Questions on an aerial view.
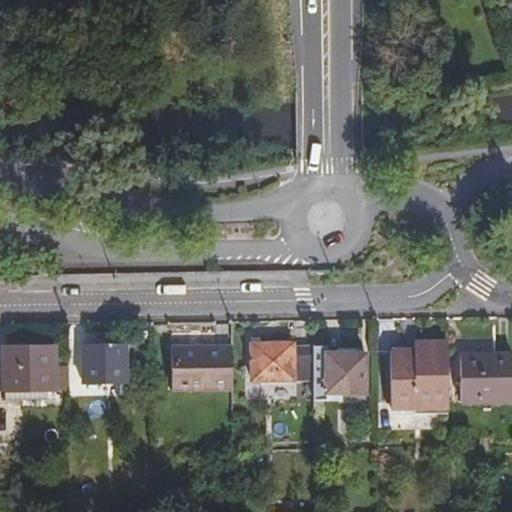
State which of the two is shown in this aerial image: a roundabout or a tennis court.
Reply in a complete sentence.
Visible in the photo is a roundabout.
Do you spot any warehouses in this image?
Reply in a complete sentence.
No, the photo shows no warehouse.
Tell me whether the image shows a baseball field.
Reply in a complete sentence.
No, the scene contains no baseball field.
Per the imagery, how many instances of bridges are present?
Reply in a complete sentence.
I count just 1 bridge.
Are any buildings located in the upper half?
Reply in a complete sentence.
No, looking in the upper half, there is no building.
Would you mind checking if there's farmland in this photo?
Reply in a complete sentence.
No, there's no farmland in this view.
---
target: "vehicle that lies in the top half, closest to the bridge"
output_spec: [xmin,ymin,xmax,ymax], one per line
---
[310,143,322,172]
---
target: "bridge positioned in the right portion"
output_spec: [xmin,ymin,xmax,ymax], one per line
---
[296,92,362,152]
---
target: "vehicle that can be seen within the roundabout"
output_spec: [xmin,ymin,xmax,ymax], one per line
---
[323,232,344,246]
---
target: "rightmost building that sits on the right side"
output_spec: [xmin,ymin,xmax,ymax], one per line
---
[461,351,512,406]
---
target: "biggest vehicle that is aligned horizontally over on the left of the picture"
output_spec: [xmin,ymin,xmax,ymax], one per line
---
[156,284,187,296]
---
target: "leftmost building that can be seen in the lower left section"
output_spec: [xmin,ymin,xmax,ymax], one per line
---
[0,346,68,400]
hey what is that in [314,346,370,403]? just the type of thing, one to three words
house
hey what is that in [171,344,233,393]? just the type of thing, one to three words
house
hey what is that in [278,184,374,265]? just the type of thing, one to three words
roundabout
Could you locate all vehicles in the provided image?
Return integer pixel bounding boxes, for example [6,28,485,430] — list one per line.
[380,408,390,428]
[156,284,187,296]
[307,0,318,12]
[310,143,322,172]
[323,232,344,246]
[241,282,262,293]
[61,285,80,295]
